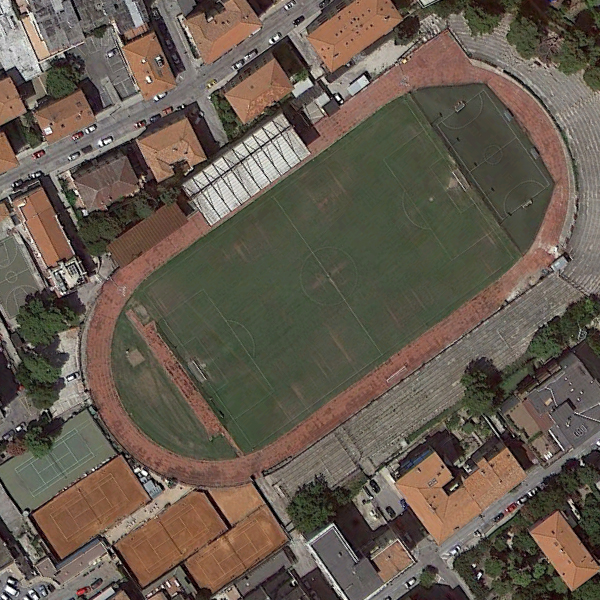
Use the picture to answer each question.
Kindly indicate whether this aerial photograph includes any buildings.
Yes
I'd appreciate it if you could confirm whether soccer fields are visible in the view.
Yes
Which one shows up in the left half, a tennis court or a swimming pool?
tennis court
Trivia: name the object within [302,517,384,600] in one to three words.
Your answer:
building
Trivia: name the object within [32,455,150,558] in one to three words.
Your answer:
tennis court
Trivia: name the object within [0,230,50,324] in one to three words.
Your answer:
basketball court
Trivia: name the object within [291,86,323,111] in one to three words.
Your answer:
shed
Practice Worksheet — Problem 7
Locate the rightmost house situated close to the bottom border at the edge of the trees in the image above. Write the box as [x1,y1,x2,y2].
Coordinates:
[527,507,600,591]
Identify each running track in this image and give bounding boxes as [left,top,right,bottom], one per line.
[86,31,567,489]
